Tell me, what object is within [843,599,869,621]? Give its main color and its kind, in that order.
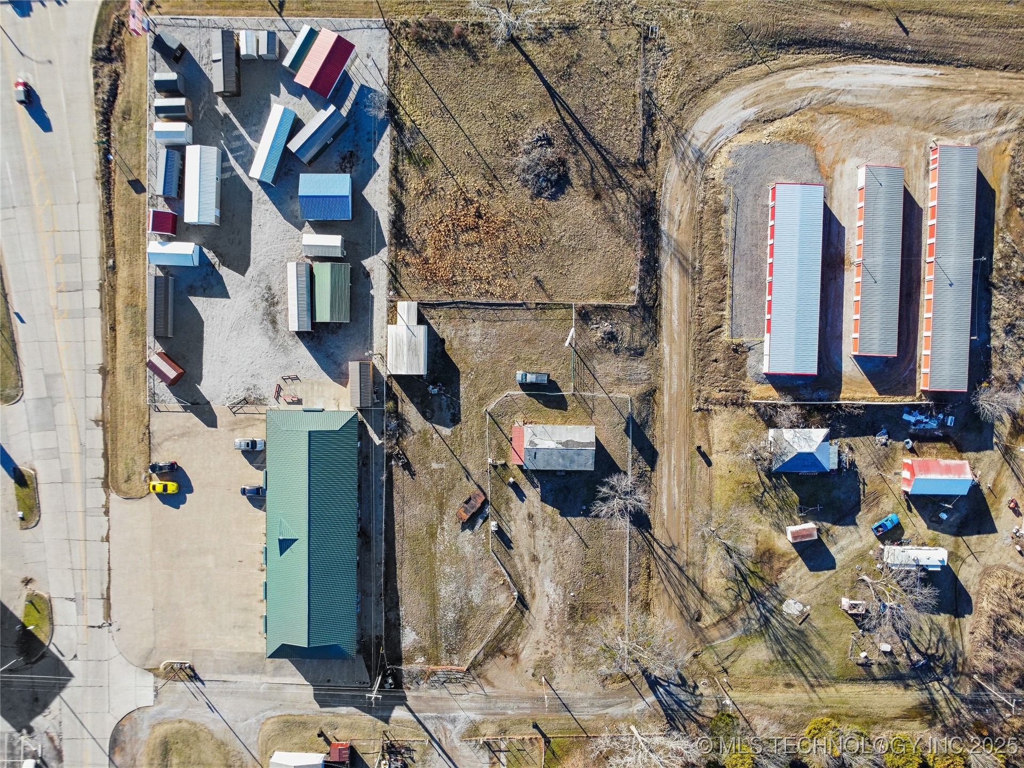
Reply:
white truck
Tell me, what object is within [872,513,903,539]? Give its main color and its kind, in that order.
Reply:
blue truck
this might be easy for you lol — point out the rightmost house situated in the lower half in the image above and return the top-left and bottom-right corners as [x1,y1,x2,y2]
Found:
[897,458,977,495]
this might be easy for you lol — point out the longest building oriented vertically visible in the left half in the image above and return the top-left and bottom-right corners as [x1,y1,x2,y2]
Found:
[263,407,358,659]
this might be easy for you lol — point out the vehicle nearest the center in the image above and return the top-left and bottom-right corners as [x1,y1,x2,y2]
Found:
[516,371,549,384]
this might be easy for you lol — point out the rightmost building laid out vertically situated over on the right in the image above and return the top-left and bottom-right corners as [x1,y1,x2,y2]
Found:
[916,145,978,391]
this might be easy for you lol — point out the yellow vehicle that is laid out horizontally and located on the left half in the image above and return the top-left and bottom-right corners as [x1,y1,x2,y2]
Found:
[147,480,178,494]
